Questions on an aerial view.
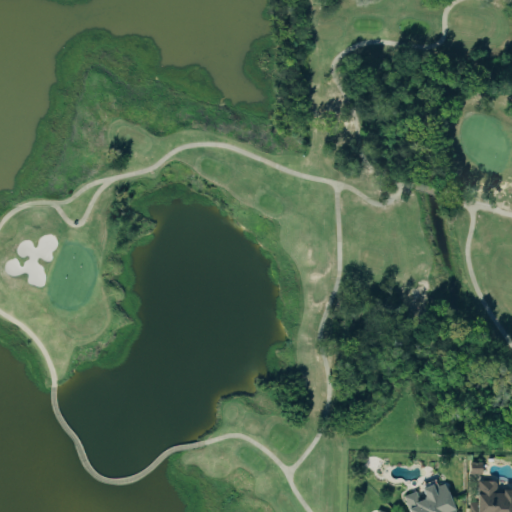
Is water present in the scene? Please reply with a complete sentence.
Yes, water shows up in the scene.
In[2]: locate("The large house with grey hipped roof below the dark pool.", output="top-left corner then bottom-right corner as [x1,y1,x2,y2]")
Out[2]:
[401,481,461,512]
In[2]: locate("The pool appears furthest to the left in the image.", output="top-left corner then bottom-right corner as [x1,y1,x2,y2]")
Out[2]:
[391,467,420,486]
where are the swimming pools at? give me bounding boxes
[391,467,420,486]
[491,465,512,478]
